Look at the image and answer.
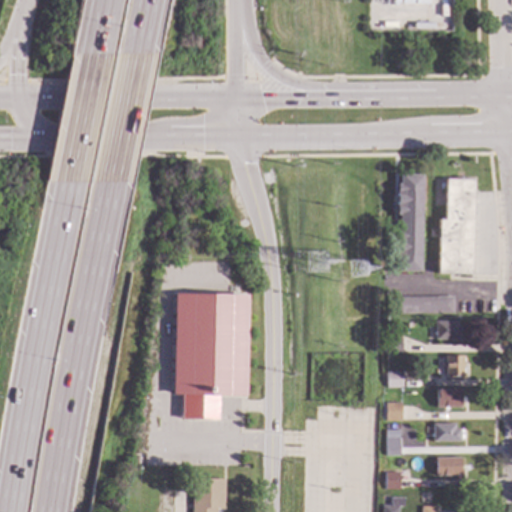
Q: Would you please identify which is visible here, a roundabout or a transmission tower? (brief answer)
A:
transmission tower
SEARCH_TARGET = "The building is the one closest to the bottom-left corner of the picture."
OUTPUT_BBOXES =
[194,478,225,512]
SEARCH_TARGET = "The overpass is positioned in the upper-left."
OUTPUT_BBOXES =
[47,54,162,182]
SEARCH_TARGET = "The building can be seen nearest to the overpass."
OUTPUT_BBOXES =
[175,293,252,419]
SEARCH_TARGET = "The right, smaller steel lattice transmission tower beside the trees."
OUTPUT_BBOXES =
[350,258,386,278]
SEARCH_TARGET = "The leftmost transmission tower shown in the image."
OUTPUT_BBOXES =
[307,250,348,274]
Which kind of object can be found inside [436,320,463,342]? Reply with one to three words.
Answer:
house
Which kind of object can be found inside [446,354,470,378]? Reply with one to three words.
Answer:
house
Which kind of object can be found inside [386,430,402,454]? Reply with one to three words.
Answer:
building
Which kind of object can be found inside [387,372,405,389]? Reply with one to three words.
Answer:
building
